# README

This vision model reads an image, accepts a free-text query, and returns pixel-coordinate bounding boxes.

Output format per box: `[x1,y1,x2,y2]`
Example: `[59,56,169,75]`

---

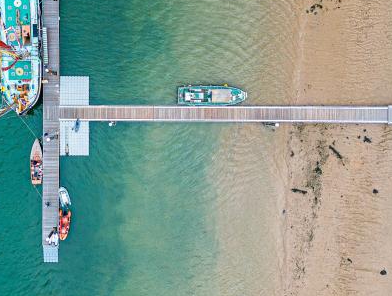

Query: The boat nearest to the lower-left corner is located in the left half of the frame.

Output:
[59,209,71,241]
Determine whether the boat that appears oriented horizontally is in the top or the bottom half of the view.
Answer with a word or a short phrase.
top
